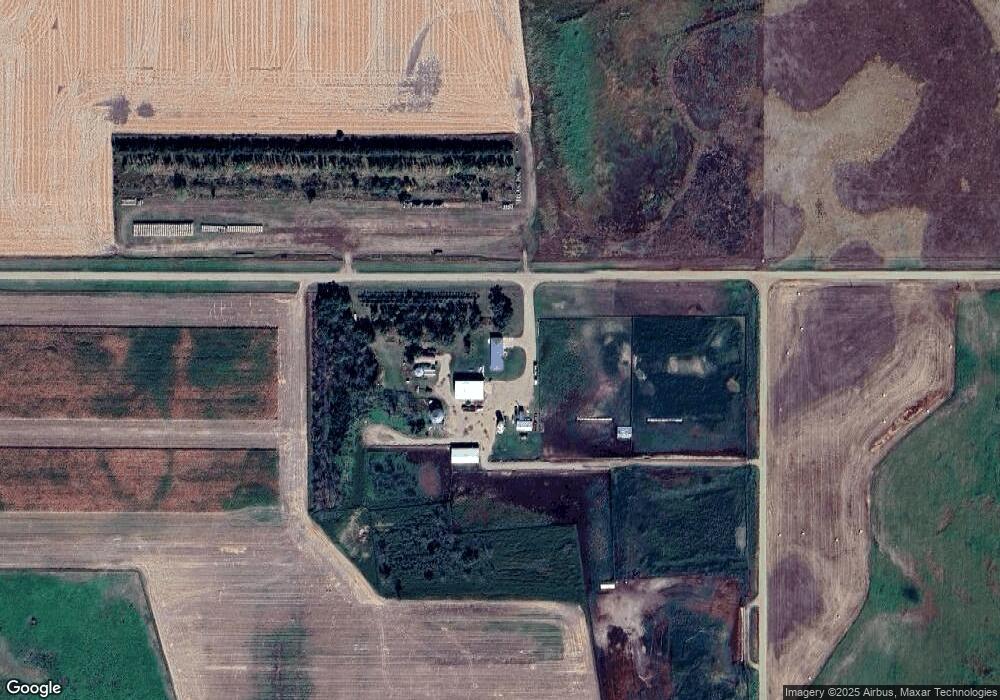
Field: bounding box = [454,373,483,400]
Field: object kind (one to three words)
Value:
barn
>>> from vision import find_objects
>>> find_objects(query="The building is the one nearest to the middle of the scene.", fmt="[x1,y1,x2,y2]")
[490,338,507,372]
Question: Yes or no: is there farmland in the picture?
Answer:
Yes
